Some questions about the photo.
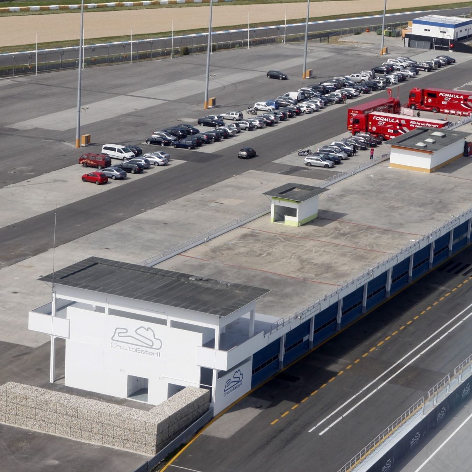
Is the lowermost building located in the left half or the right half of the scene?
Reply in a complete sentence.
You can find the lowermost building on the left side of the picture.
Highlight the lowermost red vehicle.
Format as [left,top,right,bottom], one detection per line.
[79,172,111,186]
